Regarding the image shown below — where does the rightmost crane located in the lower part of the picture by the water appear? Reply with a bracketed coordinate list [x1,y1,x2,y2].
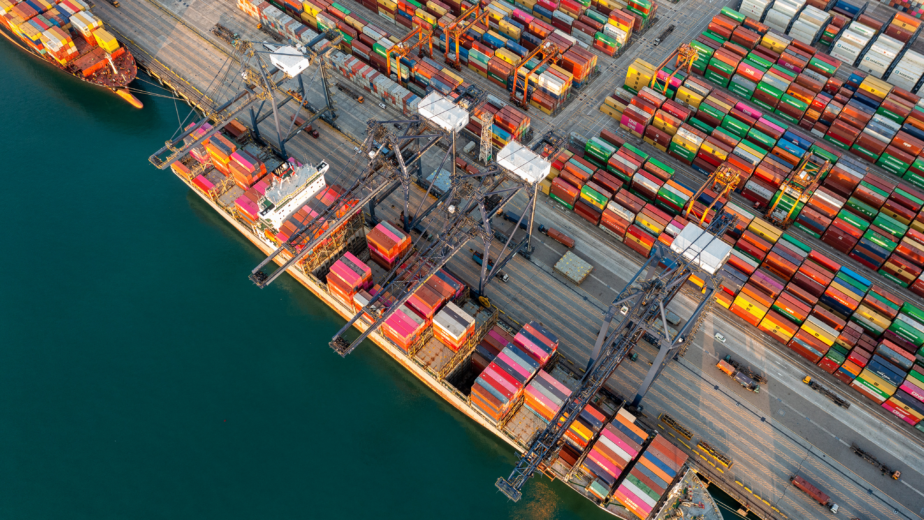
[495,197,747,507]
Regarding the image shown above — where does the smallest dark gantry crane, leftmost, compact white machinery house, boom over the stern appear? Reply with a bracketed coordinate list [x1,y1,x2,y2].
[146,27,346,171]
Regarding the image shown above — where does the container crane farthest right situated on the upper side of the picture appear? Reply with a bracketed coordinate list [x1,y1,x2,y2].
[763,152,830,227]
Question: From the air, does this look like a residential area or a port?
port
